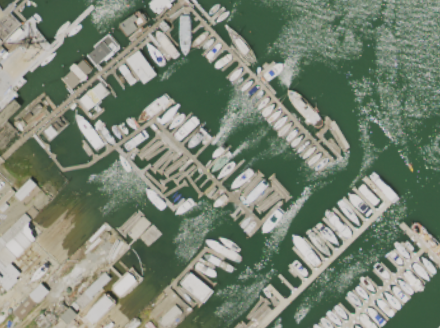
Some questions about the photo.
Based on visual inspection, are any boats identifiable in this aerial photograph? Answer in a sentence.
Yes, the photo shows a boat.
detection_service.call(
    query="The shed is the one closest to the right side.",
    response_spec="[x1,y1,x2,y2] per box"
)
[179,270,215,307]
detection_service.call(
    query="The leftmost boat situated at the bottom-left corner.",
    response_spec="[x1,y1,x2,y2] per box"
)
[30,264,48,281]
